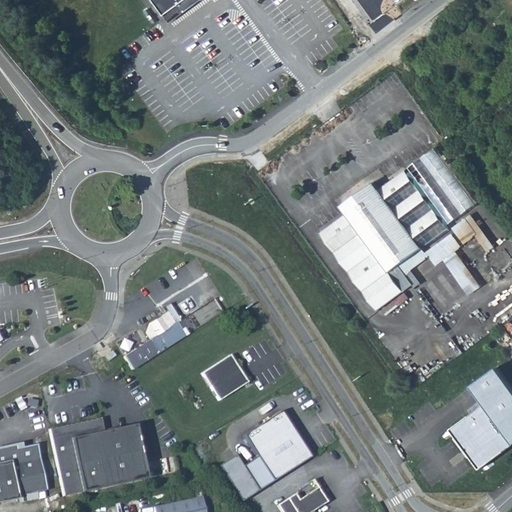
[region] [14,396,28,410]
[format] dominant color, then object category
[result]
white vehicle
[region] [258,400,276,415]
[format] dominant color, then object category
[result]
white vehicle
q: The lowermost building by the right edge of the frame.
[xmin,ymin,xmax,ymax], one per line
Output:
[442,366,512,470]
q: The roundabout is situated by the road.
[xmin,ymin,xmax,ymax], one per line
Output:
[6,118,175,266]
